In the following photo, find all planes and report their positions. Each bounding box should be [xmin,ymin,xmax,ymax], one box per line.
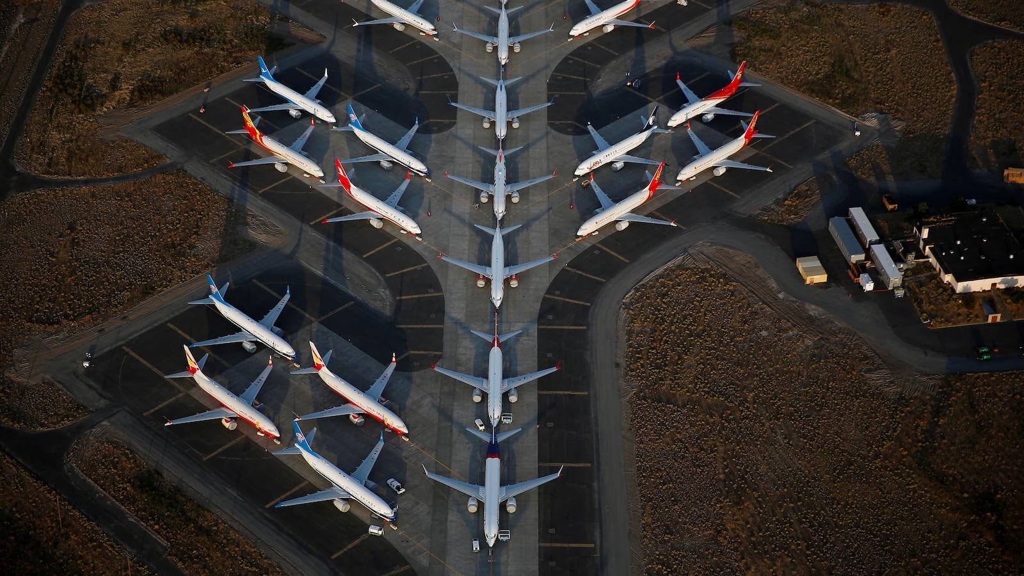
[443,129,557,221]
[331,103,428,177]
[453,0,554,66]
[668,60,761,129]
[164,345,279,440]
[291,341,407,436]
[226,106,323,179]
[188,273,296,362]
[437,207,558,308]
[448,60,555,144]
[352,0,436,37]
[577,160,680,238]
[243,55,335,125]
[430,316,561,427]
[575,105,674,178]
[272,419,395,523]
[571,0,658,39]
[422,409,563,546]
[677,110,775,183]
[318,158,421,236]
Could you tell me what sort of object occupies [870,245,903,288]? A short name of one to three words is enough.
building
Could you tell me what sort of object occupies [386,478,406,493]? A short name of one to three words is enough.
vehicle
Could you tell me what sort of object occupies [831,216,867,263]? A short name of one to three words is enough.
building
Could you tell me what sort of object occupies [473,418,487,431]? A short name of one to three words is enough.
vehicle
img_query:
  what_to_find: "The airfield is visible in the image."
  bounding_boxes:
[75,0,840,576]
